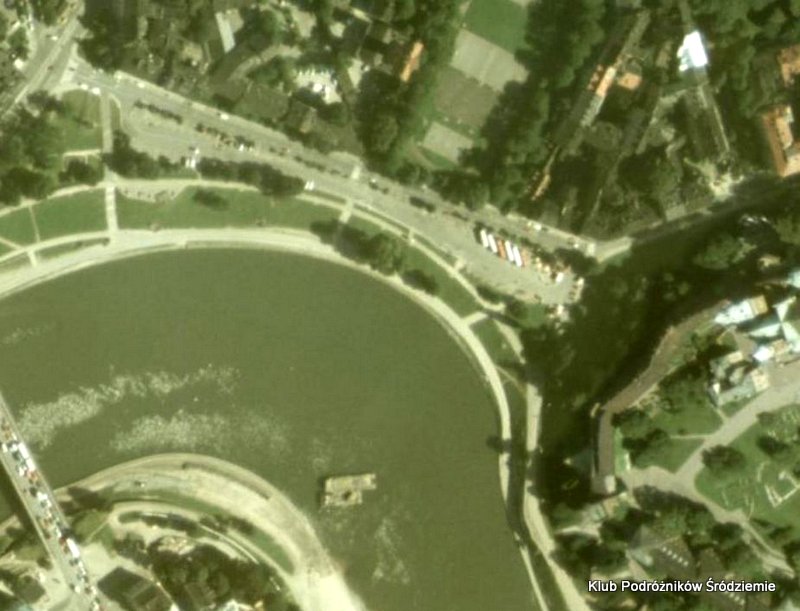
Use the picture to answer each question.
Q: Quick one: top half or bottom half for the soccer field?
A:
top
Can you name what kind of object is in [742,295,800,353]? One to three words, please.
building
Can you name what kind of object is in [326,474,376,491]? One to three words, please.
ship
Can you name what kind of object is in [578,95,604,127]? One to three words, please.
house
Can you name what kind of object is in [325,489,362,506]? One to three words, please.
ship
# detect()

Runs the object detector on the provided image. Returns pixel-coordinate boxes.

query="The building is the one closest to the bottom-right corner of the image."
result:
[703,553,764,611]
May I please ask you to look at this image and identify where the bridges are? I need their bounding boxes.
[0,389,109,611]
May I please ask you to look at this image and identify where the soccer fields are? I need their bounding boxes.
[463,0,530,51]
